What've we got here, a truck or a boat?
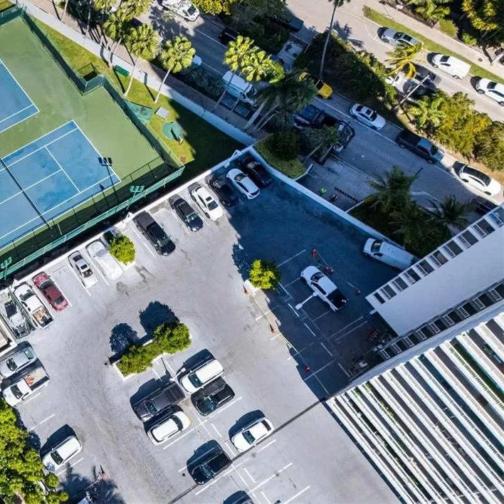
truck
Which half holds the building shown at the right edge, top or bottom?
bottom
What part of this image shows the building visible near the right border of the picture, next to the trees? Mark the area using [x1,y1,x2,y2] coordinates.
[328,189,504,504]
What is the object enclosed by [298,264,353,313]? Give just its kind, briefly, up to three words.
truck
